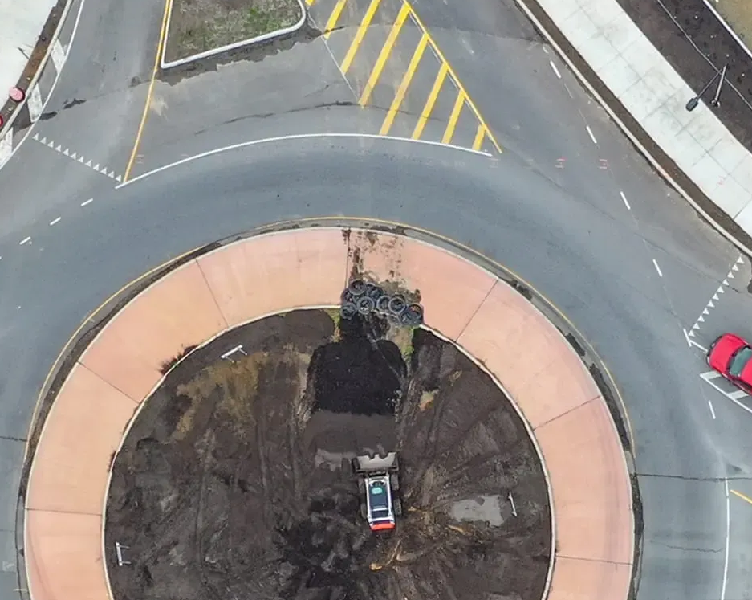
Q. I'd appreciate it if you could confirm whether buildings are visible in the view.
No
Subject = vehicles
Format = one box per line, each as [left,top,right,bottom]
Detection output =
[349,452,400,529]
[706,334,752,396]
